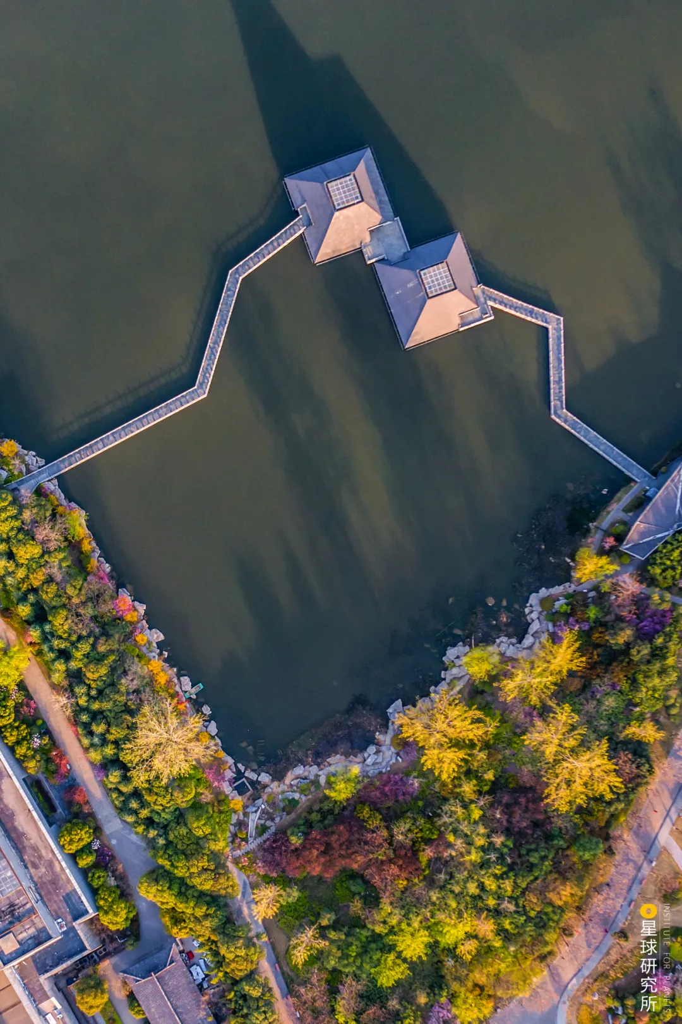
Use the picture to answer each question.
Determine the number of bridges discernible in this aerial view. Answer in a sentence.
Looking from above, you can make out 2 bridges.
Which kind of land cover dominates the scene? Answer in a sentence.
The scene is dominated by water.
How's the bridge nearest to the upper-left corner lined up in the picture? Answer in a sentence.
Seen from above, the bridge nearest to the upper-left corner lies diagonally.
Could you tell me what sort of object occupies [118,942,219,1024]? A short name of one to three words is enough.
house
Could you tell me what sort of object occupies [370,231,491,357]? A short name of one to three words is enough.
building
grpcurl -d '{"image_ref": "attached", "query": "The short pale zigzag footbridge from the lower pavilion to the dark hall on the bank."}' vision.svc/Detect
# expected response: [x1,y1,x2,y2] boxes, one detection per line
[481,285,653,483]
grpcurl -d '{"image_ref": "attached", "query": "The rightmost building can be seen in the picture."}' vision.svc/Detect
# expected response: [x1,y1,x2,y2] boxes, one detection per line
[619,458,682,560]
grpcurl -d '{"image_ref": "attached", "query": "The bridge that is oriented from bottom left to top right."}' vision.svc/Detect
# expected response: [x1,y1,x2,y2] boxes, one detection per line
[41,215,303,479]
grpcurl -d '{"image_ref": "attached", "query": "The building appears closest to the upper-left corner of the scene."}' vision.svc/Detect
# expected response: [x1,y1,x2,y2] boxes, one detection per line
[280,147,396,273]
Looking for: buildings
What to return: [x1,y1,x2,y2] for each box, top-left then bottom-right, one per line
[118,942,219,1024]
[280,147,396,273]
[0,736,102,1024]
[619,458,682,560]
[370,231,491,357]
